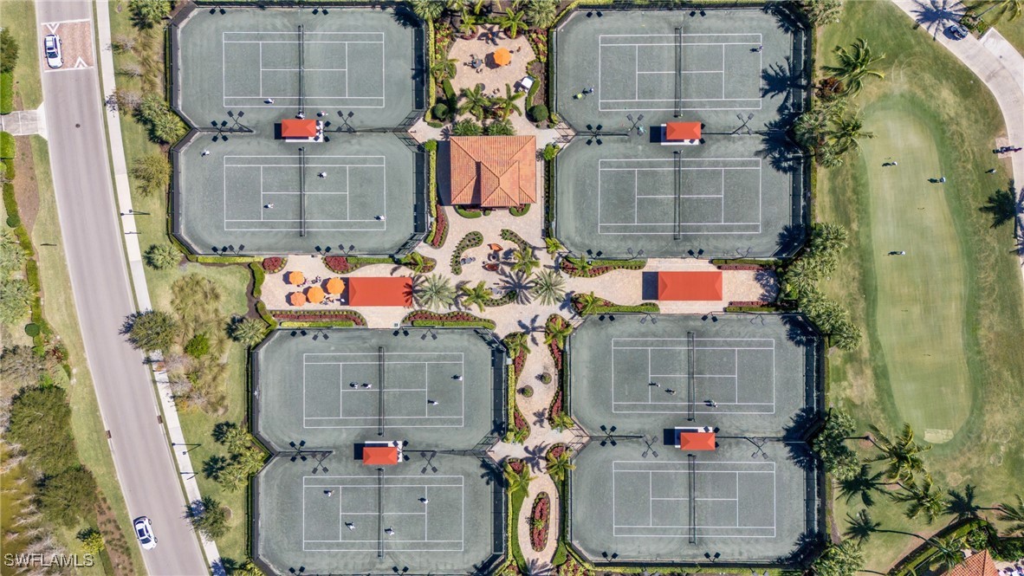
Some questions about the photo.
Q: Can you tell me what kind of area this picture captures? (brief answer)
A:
sports ground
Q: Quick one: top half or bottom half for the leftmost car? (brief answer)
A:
top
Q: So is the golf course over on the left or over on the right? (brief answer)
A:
right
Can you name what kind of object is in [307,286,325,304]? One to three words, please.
umbrella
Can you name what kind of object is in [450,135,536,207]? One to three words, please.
building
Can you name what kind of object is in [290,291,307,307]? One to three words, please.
umbrella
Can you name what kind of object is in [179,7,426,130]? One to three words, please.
tennis court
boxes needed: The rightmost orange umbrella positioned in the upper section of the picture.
[494,50,510,66]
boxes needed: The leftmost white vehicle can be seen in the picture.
[40,33,61,67]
